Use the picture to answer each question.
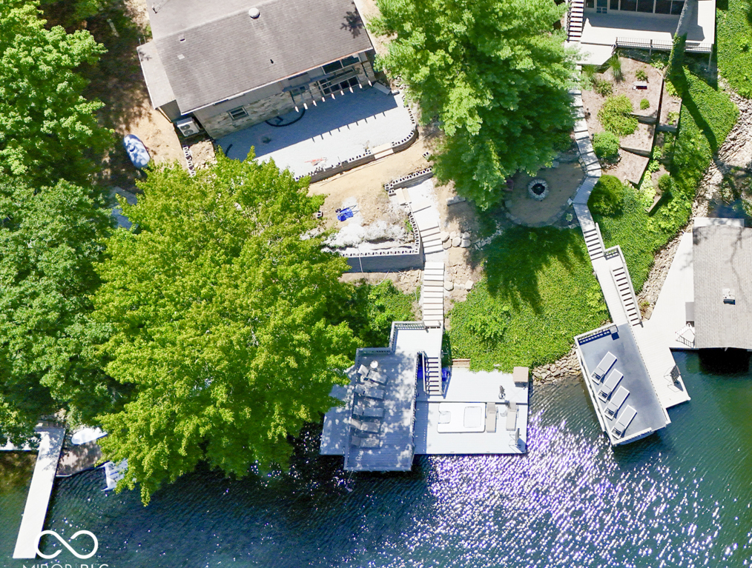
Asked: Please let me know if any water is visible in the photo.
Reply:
Yes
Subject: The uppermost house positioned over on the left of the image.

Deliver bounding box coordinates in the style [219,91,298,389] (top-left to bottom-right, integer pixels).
[138,0,380,135]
